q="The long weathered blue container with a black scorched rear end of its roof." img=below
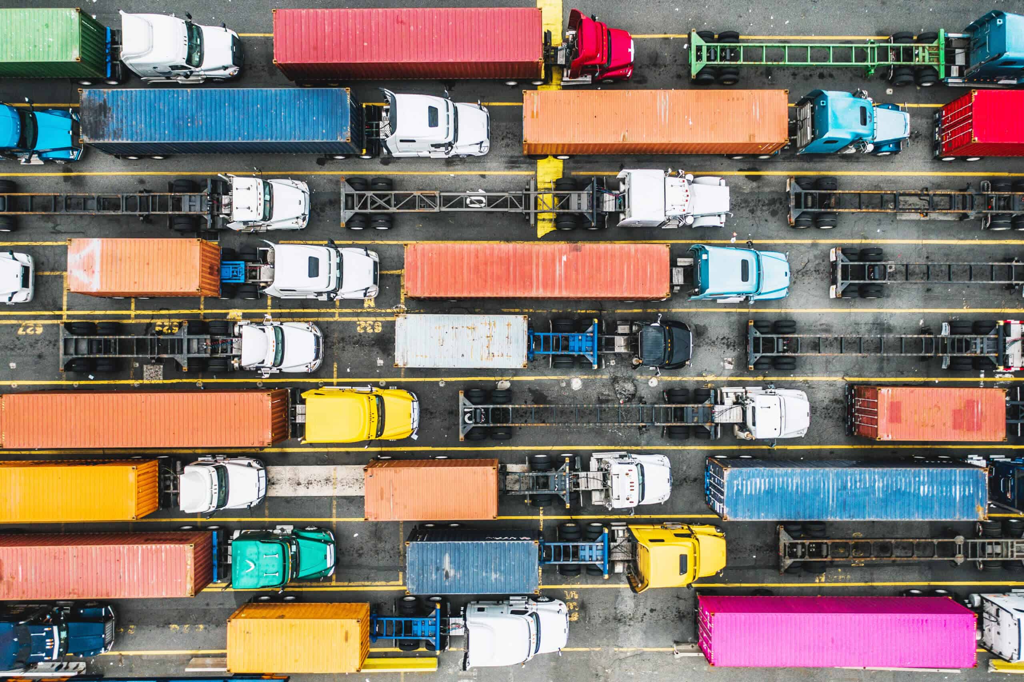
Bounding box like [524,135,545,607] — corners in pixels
[78,88,361,155]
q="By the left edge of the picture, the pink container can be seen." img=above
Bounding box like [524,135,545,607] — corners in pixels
[0,532,213,598]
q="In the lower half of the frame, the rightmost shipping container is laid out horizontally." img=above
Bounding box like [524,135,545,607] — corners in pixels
[856,385,1006,441]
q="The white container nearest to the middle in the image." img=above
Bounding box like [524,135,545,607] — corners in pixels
[394,314,527,368]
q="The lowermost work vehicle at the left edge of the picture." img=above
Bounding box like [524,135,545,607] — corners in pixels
[0,598,118,670]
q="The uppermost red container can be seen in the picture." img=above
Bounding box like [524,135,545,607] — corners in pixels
[273,8,542,80]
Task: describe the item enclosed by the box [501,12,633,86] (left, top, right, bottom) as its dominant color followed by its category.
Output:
red work vehicle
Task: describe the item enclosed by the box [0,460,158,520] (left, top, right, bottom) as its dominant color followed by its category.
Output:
yellow shipping container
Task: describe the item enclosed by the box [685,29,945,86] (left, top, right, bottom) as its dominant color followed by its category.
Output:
green trailer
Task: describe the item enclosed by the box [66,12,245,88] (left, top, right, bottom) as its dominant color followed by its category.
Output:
white work vehicle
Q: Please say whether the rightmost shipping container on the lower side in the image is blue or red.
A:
red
